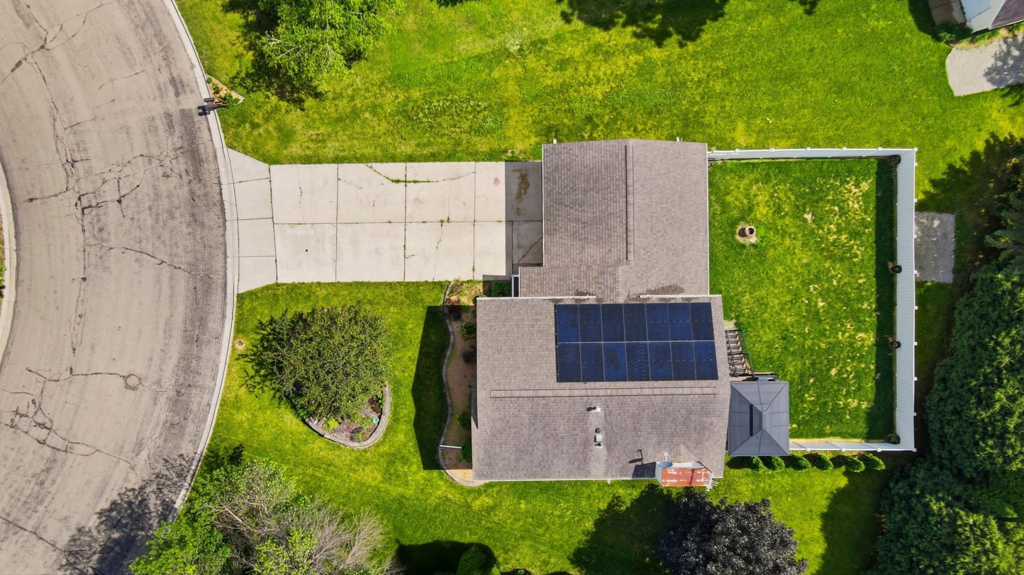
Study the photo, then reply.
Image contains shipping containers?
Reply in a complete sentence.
No, the frame has no shipping container in it.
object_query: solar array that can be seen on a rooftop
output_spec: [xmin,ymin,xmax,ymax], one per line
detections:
[552,302,720,382]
